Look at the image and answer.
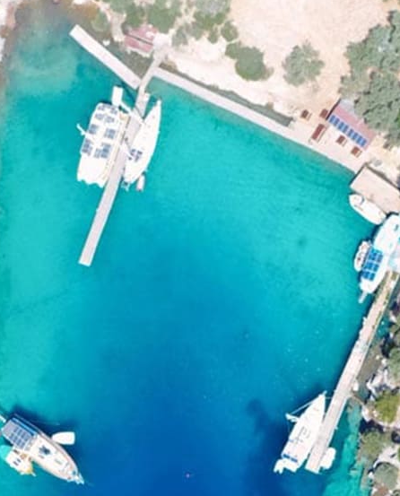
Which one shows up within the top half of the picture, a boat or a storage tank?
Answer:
boat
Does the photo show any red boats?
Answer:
No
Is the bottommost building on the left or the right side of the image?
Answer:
right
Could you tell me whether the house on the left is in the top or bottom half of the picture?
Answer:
top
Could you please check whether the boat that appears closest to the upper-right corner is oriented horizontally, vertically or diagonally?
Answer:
diagonally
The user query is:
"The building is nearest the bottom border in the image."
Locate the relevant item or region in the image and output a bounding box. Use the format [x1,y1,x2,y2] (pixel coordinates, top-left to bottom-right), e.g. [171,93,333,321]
[327,96,376,148]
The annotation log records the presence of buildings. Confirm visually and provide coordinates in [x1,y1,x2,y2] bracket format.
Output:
[327,96,376,148]
[125,24,159,61]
